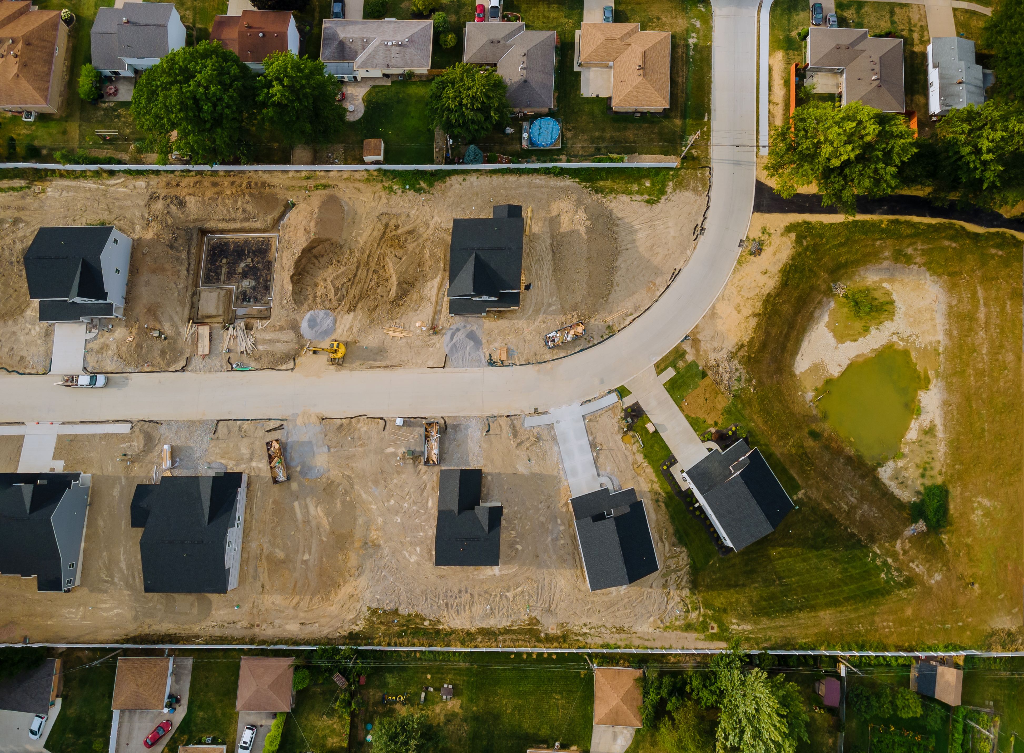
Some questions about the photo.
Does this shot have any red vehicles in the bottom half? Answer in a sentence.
Yes, there is a red vehicle in the bottom half.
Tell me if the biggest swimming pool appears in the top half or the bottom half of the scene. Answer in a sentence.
The biggest swimming pool sits in the top half of the picture.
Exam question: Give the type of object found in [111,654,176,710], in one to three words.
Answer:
building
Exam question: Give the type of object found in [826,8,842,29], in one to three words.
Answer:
car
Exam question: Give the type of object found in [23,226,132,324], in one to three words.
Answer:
house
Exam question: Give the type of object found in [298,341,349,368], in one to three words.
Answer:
work vehicle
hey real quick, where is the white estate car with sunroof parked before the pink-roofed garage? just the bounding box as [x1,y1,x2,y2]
[235,724,256,753]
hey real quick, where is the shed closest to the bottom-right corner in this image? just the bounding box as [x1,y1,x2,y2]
[906,659,963,706]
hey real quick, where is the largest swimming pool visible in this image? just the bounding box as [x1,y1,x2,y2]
[530,114,560,146]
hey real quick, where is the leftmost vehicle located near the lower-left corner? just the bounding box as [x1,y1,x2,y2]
[25,713,47,744]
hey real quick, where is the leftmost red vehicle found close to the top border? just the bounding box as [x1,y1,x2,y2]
[473,1,486,23]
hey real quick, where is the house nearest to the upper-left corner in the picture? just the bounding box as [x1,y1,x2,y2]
[0,1,71,113]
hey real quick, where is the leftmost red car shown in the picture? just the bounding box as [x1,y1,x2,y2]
[145,722,174,751]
